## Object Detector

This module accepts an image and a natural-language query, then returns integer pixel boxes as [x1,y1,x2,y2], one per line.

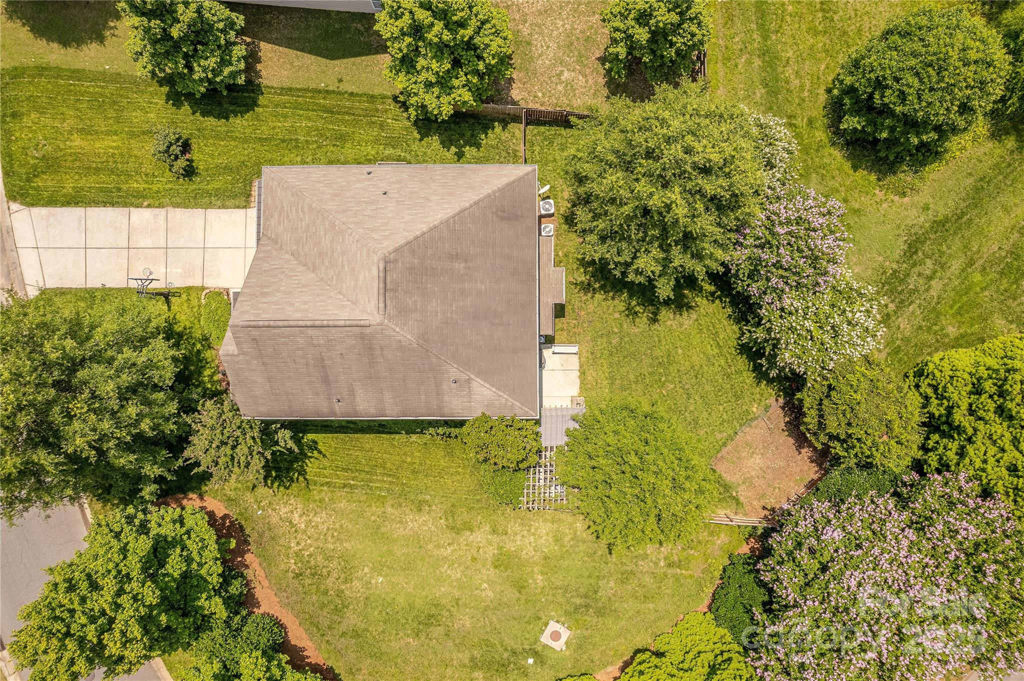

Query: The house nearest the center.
[219,162,566,421]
